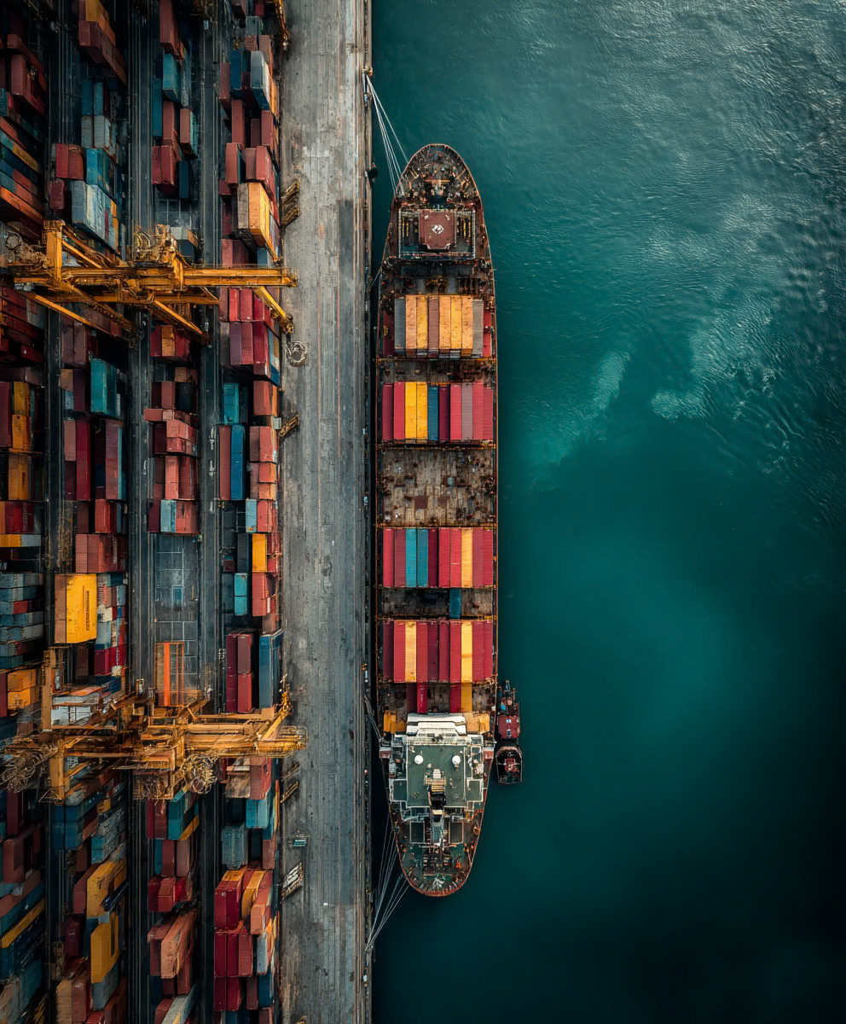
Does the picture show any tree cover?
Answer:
No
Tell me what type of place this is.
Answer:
port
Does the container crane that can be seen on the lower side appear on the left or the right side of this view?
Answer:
left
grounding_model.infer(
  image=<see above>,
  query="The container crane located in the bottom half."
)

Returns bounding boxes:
[0,648,306,804]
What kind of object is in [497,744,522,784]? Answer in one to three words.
boat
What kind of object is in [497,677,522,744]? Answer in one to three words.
boat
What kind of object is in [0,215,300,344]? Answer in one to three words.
container crane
